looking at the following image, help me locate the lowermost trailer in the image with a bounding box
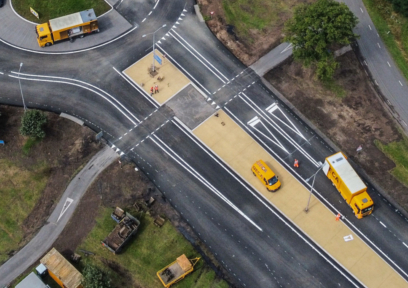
[158,253,203,288]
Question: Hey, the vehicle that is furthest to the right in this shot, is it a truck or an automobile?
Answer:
truck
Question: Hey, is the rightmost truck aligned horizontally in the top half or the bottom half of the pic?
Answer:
top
